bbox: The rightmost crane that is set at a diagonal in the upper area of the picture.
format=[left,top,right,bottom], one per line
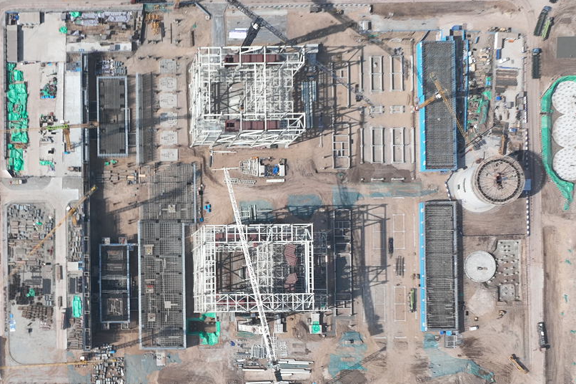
[414,71,484,162]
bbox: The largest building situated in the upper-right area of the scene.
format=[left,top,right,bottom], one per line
[416,29,457,173]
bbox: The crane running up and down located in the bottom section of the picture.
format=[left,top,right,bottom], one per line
[206,168,287,384]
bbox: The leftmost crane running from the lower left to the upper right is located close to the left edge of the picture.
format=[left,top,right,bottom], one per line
[0,184,99,286]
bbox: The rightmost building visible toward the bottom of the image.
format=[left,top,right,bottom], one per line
[420,201,460,331]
